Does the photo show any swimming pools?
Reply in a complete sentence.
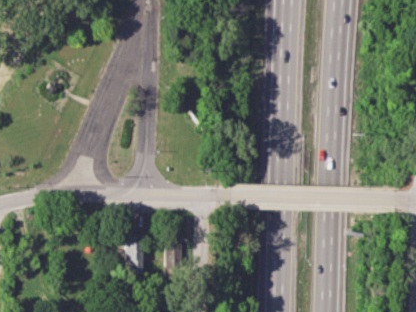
No, the scene contains no swimming pool.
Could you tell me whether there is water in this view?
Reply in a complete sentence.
No, there's no water in this view.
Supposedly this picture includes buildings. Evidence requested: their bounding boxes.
[120,242,146,268]
[163,246,180,276]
